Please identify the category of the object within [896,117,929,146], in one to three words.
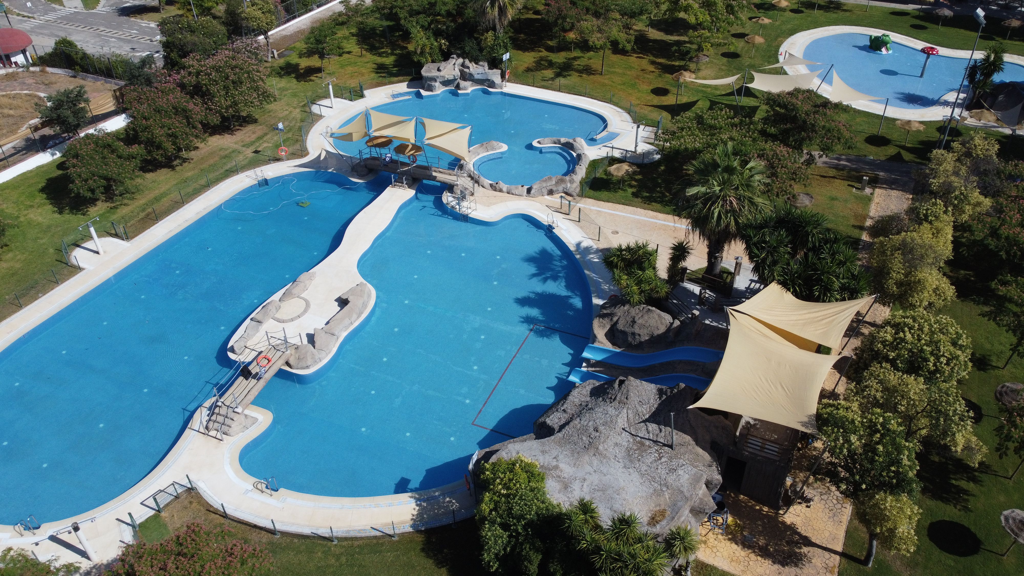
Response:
umbrella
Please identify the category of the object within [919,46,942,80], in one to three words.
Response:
fountain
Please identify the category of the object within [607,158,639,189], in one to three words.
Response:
umbrella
